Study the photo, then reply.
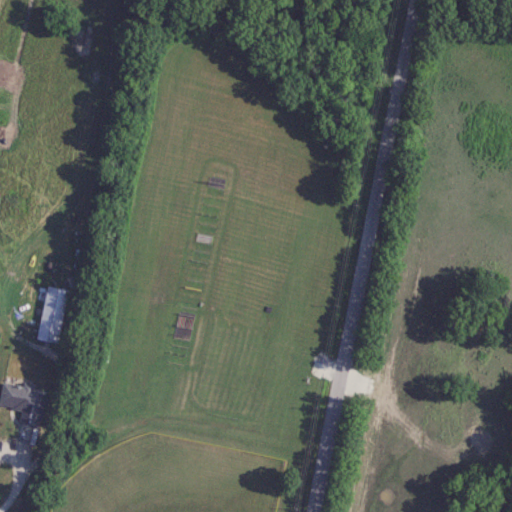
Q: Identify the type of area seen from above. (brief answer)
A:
sports ground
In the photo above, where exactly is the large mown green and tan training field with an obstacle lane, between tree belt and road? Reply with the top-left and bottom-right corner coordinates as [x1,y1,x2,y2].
[98,42,354,461]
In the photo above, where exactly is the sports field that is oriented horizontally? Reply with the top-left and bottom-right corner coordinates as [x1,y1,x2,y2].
[56,434,284,512]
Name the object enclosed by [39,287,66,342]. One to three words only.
barn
